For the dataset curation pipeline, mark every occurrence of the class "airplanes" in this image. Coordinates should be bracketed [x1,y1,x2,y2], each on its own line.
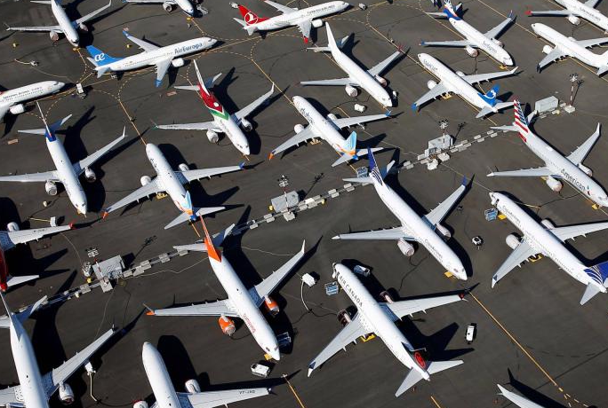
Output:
[100,145,247,230]
[531,25,608,75]
[151,61,278,155]
[269,98,390,168]
[233,0,348,44]
[144,218,308,358]
[490,195,608,304]
[421,0,515,66]
[2,0,117,50]
[306,267,466,398]
[412,58,516,118]
[0,106,132,210]
[0,82,70,133]
[295,24,403,107]
[488,101,608,206]
[0,290,123,408]
[0,218,80,291]
[332,150,467,278]
[130,343,274,408]
[527,0,608,35]
[87,29,220,88]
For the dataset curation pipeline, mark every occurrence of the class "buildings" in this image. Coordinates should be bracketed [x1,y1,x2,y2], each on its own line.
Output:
[87,246,128,280]
[422,130,456,156]
[263,186,300,216]
[532,95,560,118]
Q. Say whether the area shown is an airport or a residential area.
airport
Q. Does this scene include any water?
No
